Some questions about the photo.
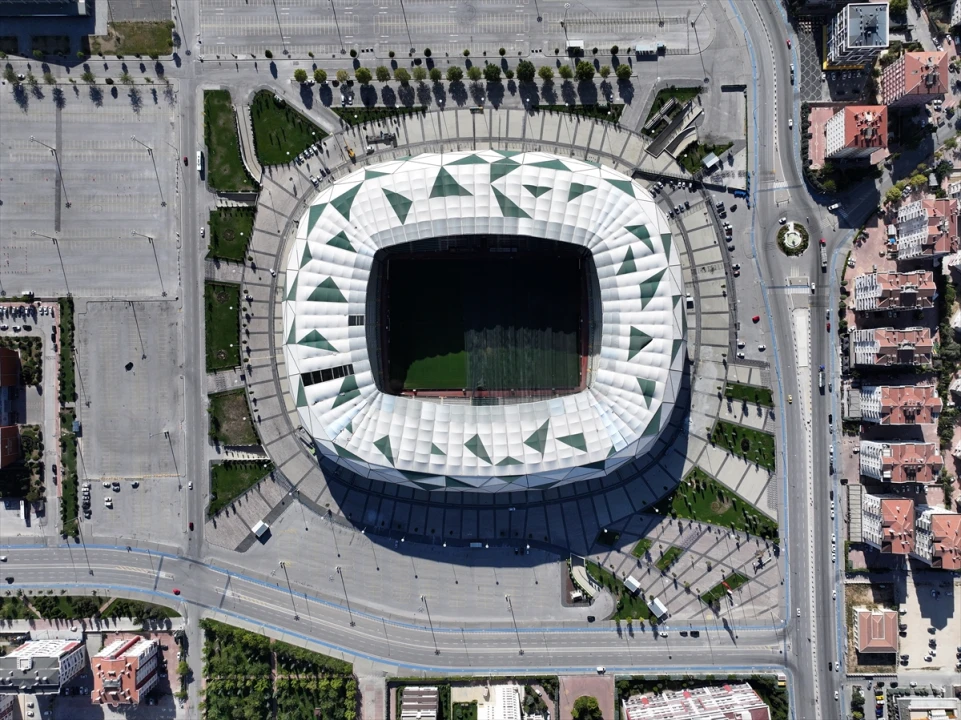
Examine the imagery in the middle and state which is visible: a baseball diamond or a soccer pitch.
soccer pitch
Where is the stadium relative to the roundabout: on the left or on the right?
on the left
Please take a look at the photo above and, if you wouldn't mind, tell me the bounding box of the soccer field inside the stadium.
[379,252,589,398]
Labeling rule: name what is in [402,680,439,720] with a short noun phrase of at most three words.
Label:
building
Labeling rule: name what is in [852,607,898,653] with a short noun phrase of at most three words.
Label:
house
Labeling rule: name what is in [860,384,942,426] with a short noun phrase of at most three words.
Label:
building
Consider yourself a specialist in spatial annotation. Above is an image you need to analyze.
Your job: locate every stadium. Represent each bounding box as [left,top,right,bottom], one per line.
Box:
[282,149,687,491]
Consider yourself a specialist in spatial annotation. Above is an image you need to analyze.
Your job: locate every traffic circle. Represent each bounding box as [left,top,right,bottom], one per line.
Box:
[777,222,810,254]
